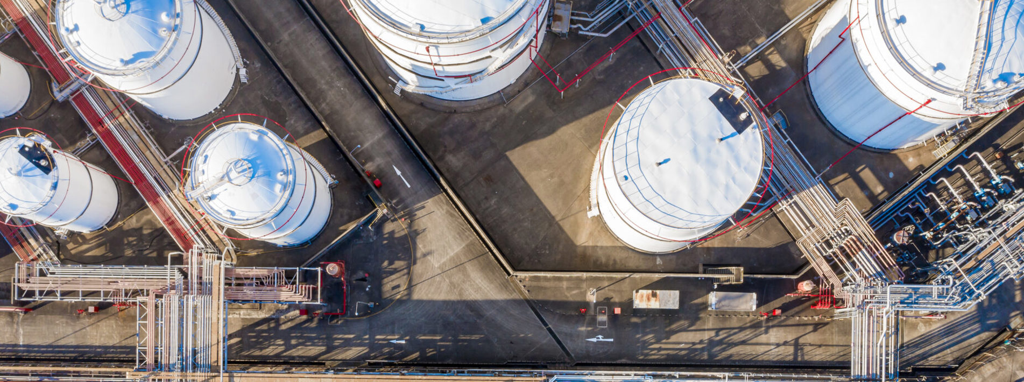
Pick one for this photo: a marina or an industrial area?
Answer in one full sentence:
This looks like an industrial area.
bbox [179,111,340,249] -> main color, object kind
white storage tank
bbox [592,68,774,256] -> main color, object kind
white storage tank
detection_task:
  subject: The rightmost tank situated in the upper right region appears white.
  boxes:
[760,0,1024,176]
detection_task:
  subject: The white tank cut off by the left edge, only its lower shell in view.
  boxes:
[0,51,44,120]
